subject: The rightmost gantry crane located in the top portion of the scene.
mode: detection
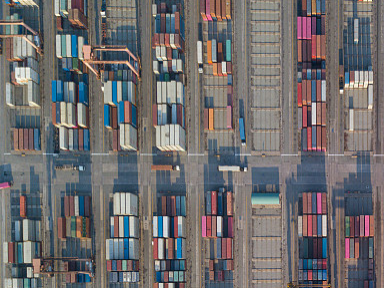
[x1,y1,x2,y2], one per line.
[80,46,146,77]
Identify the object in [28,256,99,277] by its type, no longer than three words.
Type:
container crane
